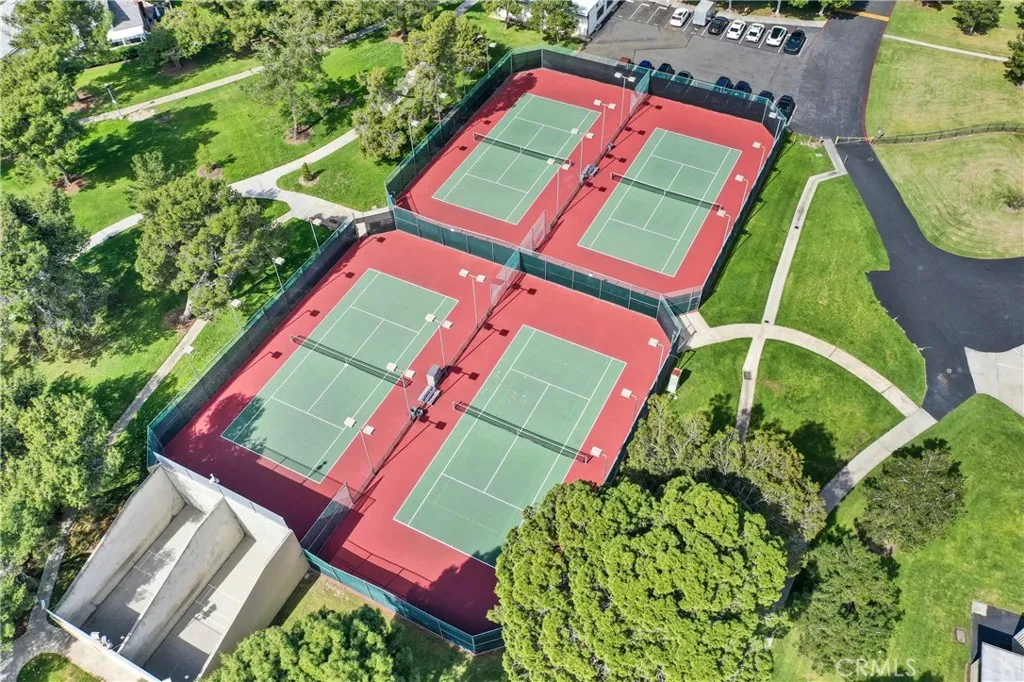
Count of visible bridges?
0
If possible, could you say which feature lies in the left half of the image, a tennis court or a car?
tennis court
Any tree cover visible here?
Yes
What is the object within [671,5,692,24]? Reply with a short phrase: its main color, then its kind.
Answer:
white car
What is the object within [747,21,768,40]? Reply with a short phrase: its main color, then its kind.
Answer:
white car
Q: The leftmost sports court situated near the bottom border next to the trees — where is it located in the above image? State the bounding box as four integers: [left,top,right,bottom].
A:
[44,452,309,682]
